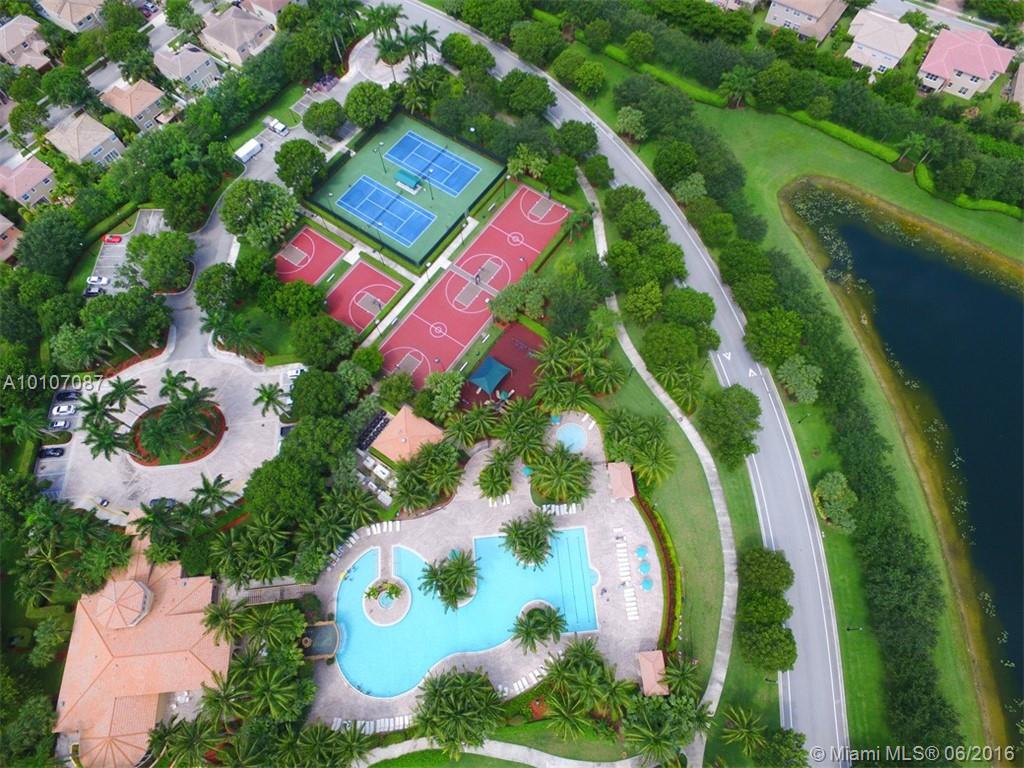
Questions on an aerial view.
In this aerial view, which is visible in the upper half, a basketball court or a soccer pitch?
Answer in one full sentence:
The feature located in the upper half is a basketball court.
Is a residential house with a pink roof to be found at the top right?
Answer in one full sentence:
Yes, there is a residential house with a pink roof at the top right.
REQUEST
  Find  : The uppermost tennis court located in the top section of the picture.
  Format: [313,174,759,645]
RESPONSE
[384,130,481,196]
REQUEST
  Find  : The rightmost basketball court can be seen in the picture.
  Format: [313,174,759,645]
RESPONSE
[452,183,573,288]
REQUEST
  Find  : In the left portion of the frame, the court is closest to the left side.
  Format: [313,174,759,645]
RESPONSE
[273,224,346,283]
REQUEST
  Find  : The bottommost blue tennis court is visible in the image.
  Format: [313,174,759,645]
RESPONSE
[336,175,437,246]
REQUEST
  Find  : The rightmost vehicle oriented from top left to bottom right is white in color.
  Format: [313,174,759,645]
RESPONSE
[268,118,286,133]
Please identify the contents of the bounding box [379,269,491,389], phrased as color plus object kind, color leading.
red basketball court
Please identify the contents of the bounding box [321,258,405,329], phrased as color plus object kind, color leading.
red basketball court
